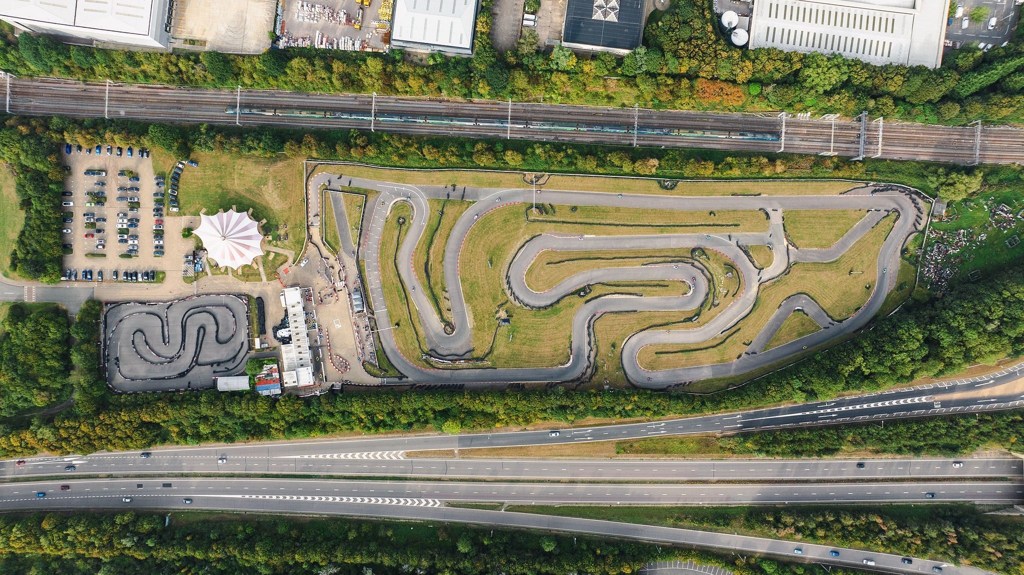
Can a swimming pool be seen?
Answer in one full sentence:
No, the photo shows no swimming pool.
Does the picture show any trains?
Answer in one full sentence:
Yes, the photo shows a train.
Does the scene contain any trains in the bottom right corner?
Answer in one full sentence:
No, no train is visible in the bottom right corner.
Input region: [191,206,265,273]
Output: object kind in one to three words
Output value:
tent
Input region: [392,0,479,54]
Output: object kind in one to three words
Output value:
building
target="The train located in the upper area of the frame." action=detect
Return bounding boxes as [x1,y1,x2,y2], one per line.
[227,108,778,142]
